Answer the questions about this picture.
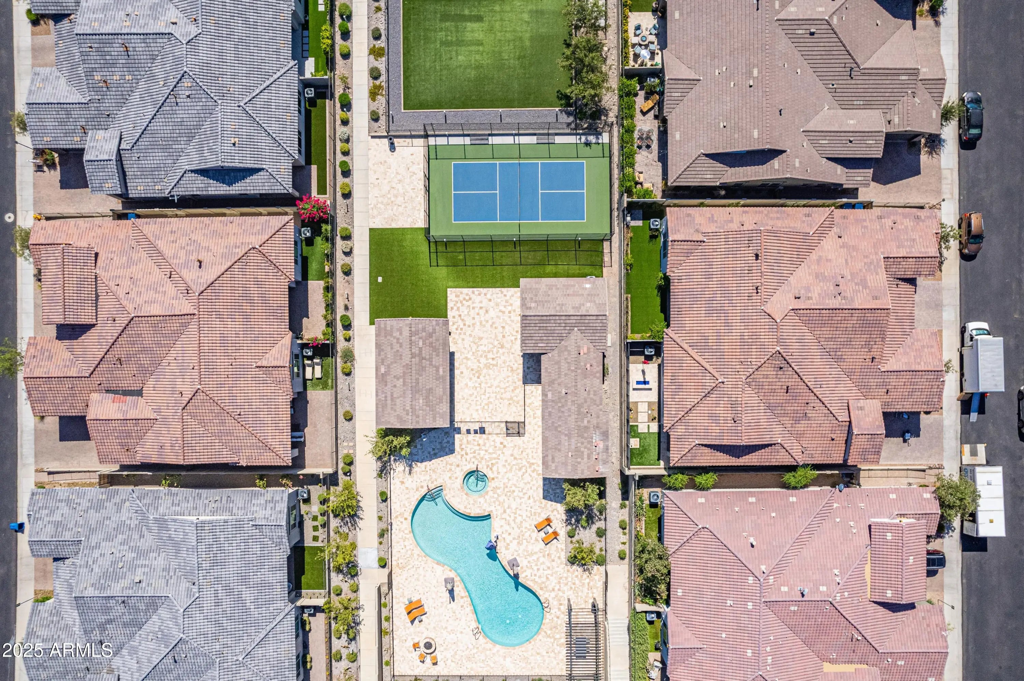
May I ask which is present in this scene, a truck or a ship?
truck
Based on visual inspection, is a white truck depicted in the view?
Yes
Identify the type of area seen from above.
residential area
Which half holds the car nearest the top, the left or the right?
right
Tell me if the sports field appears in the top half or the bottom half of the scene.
top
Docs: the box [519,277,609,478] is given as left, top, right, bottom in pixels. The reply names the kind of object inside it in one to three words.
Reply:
building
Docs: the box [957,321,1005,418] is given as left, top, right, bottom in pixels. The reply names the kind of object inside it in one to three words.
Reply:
truck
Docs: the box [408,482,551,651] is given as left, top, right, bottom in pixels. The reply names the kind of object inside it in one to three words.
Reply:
swimming pool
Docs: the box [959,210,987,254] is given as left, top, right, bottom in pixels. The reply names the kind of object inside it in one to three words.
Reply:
car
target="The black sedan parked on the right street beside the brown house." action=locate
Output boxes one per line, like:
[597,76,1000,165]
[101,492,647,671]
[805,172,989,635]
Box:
[960,91,988,141]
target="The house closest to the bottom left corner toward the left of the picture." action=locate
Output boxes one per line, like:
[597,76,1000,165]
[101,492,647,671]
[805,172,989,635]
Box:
[24,485,304,681]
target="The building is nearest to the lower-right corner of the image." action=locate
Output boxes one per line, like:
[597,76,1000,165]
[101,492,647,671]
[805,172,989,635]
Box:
[660,485,950,681]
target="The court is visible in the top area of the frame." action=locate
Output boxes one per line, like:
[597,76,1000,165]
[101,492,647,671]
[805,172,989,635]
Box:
[428,135,611,241]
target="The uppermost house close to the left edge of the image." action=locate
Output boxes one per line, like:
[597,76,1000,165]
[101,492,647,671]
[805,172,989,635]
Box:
[24,0,304,197]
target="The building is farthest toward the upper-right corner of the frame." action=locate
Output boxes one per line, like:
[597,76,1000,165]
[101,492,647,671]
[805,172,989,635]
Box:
[660,0,948,189]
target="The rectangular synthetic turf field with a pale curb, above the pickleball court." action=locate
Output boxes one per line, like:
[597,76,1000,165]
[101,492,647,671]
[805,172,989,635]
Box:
[401,0,577,112]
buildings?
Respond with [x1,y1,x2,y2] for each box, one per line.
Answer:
[22,214,301,466]
[660,206,946,467]
[24,485,304,681]
[374,317,450,429]
[660,0,948,189]
[519,277,609,478]
[660,485,950,681]
[24,0,304,197]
